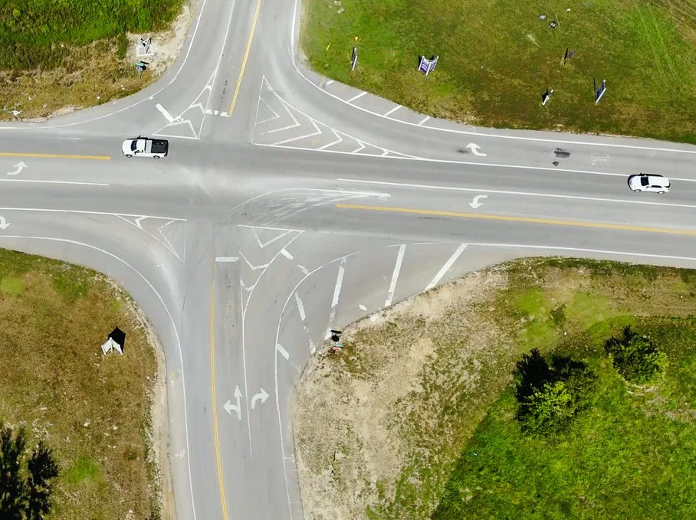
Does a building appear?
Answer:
No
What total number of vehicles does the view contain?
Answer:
2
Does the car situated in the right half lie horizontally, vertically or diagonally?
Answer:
horizontally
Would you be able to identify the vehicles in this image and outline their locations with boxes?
[120,135,173,159]
[629,173,674,195]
